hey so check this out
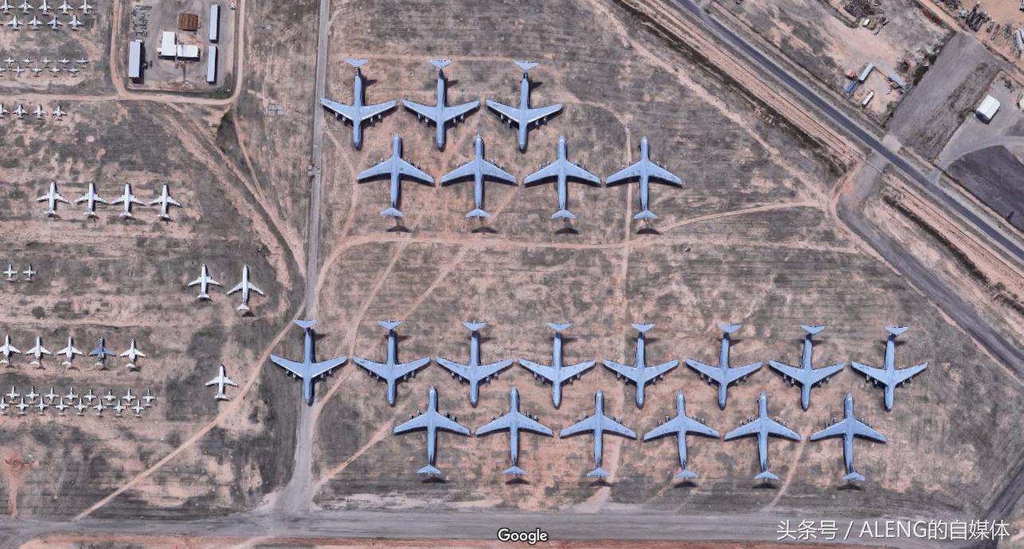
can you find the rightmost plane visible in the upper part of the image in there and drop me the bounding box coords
[606,135,682,221]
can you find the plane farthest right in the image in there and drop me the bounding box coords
[852,324,927,411]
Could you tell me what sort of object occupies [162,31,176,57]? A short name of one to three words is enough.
building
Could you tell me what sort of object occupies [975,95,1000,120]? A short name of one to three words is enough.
hangar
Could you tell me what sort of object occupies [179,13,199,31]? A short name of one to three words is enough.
shed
